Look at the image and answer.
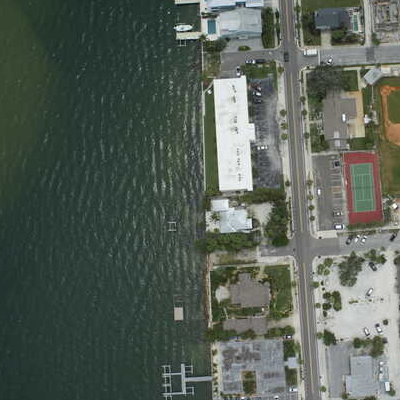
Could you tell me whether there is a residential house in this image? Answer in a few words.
Yes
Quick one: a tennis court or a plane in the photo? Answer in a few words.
tennis court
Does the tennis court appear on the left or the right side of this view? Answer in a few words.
right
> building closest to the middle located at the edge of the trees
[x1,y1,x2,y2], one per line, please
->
[211,199,253,233]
